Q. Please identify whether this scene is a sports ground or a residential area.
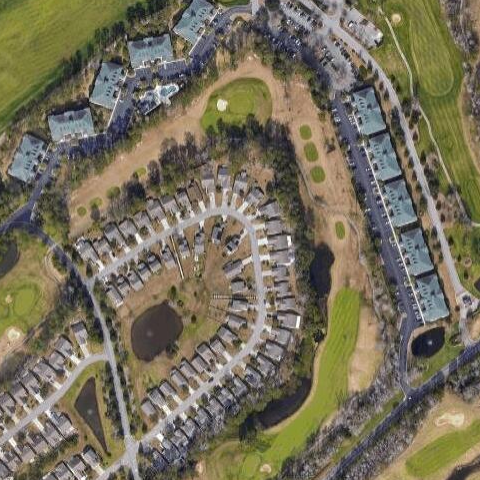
residential area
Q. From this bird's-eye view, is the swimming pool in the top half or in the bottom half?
top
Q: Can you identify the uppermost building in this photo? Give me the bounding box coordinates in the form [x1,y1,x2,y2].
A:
[174,0,220,44]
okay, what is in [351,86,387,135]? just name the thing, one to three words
building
